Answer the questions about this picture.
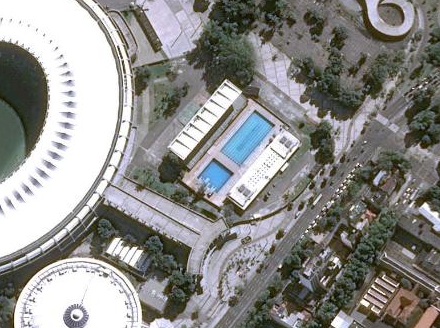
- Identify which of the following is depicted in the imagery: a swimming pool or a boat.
swimming pool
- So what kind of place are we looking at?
sports ground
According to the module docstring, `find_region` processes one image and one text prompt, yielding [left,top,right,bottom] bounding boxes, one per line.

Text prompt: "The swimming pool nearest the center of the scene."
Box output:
[182,101,300,215]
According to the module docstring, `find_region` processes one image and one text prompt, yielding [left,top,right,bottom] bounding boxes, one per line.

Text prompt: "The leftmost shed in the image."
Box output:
[106,237,149,273]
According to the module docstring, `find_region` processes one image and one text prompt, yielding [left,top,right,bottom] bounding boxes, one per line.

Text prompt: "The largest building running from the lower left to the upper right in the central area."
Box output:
[228,129,301,211]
